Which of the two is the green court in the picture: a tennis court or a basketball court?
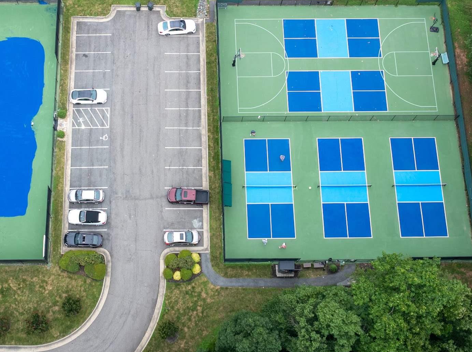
basketball court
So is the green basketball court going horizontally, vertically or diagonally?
horizontally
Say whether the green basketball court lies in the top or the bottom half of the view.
top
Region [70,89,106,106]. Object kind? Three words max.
car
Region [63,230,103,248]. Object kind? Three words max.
car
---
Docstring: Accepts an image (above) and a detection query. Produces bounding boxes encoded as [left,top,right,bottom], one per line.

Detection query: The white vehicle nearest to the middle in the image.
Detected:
[163,230,201,247]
